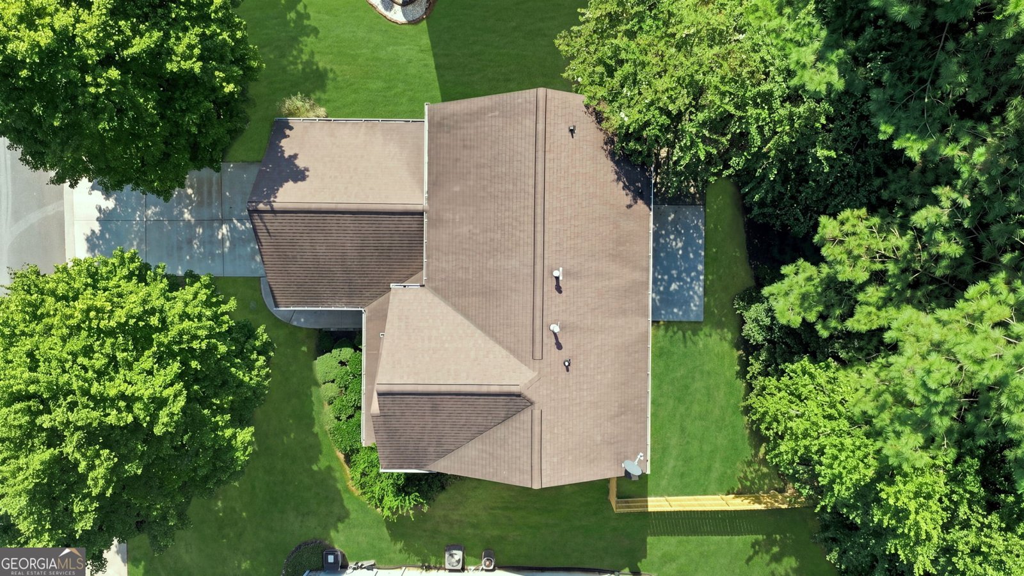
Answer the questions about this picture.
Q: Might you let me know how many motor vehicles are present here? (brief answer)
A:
0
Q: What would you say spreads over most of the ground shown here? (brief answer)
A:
trees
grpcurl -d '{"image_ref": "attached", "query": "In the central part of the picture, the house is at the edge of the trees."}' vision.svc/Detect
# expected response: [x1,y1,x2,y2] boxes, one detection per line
[246,89,653,490]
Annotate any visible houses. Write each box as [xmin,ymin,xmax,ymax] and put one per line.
[246,89,653,490]
[299,565,643,576]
